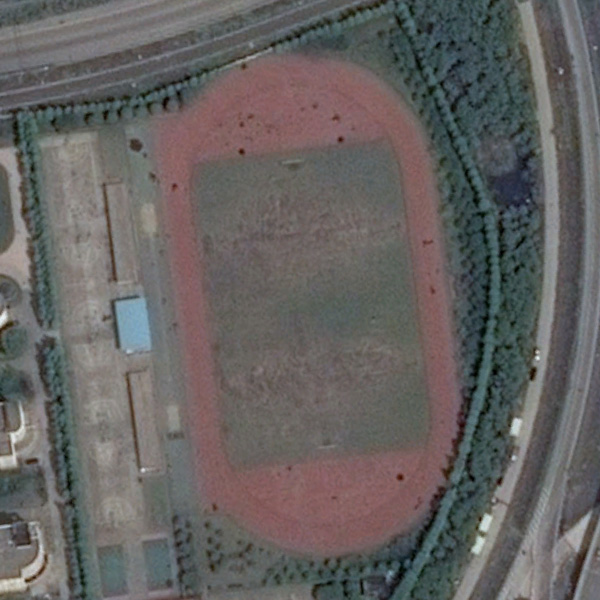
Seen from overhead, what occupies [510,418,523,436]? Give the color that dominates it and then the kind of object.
white vehicle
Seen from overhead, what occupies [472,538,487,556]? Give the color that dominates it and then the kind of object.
white vehicle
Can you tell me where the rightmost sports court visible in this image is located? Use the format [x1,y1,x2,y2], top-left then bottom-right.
[138,535,176,595]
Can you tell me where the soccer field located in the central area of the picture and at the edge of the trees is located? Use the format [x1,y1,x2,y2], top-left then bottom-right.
[195,138,427,470]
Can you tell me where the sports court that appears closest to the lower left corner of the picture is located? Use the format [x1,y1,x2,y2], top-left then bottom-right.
[93,540,131,600]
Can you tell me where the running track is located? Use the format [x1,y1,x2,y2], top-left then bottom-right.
[152,55,460,556]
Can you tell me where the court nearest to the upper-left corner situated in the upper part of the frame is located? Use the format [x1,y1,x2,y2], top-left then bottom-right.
[47,143,100,228]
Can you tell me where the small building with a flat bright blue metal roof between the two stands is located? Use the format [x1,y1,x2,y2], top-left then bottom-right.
[115,296,152,357]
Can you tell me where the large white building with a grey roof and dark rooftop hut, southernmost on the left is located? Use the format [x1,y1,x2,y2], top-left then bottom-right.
[0,523,43,594]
